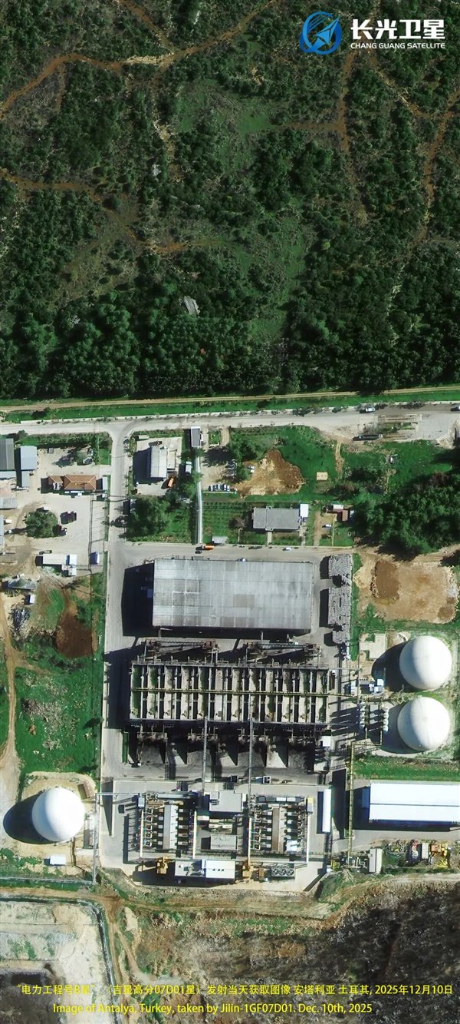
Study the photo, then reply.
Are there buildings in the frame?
Yes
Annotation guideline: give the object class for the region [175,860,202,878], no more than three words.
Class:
house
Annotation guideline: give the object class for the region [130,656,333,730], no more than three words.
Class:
building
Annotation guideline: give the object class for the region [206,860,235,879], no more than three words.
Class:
house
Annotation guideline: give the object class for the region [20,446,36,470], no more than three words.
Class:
shed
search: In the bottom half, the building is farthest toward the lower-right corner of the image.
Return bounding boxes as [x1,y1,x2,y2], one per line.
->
[369,848,382,873]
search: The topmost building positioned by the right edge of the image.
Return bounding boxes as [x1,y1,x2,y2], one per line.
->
[362,782,460,821]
